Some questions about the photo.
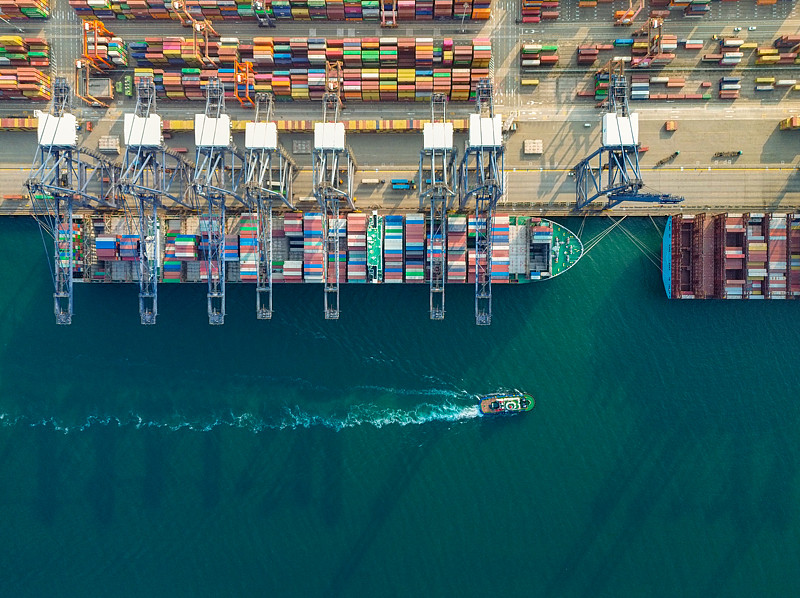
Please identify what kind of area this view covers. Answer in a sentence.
This image shows a port.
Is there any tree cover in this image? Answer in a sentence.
No, the scene doesn't show any tree cover.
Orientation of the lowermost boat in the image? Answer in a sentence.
In this picture, the lowermost boat lies from left to right.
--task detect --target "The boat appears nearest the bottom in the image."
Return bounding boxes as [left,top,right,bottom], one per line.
[478,392,534,414]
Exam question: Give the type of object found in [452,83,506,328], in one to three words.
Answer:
container crane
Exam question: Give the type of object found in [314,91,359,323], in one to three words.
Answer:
container crane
